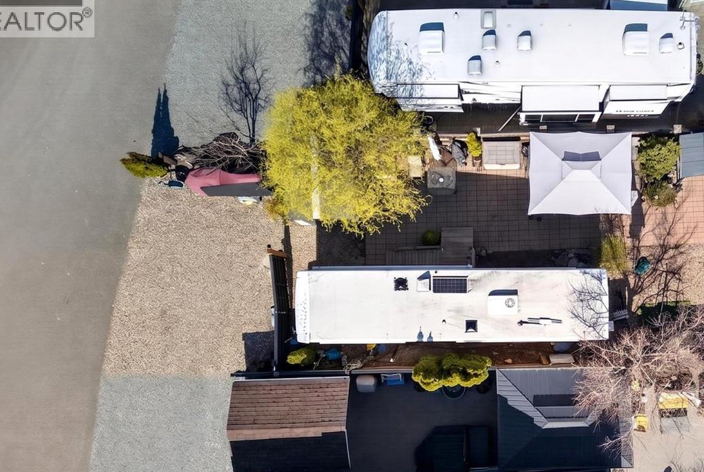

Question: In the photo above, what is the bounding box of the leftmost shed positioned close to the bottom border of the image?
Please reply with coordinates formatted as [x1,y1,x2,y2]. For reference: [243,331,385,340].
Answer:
[226,373,357,472]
